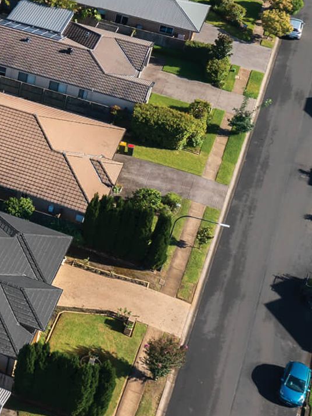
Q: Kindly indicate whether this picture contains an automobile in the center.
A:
No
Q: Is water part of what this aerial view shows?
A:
No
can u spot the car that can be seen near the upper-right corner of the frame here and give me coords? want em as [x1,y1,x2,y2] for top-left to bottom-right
[283,22,304,42]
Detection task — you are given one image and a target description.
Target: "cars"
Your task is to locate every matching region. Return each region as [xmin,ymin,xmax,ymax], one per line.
[283,22,304,42]
[273,364,312,414]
